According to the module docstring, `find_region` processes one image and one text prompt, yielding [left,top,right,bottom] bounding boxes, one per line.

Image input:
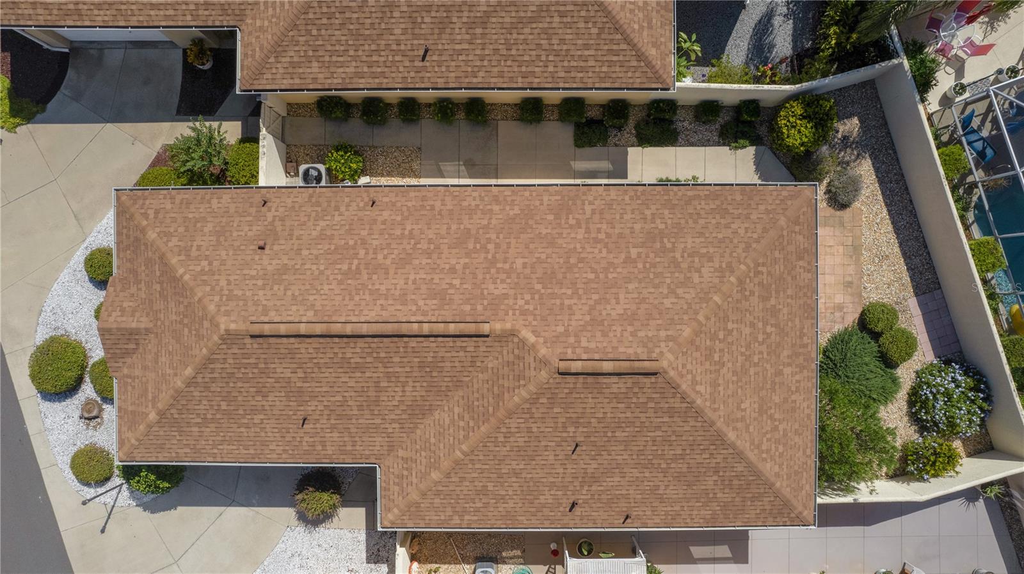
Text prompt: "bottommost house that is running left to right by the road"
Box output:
[95,186,818,529]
